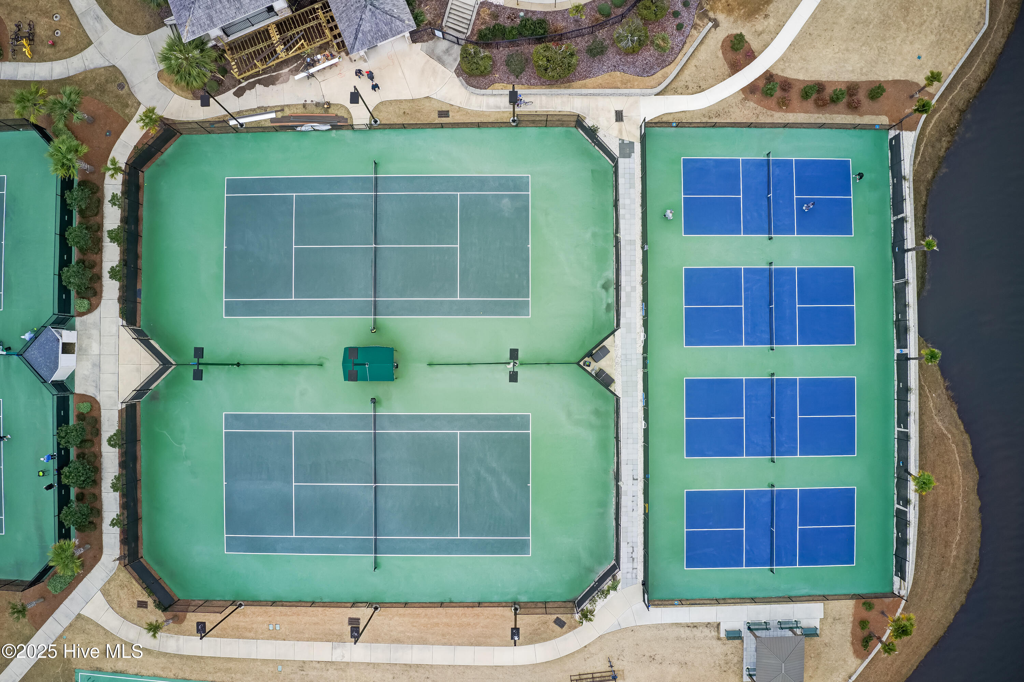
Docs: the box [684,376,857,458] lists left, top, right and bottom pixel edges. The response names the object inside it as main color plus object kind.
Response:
blue sports court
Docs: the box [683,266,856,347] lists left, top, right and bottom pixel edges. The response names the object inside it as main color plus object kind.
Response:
blue sports court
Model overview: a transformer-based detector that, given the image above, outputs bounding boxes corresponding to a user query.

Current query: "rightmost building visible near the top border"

[327,0,417,57]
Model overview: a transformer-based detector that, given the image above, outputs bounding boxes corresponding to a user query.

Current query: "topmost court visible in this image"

[681,157,854,236]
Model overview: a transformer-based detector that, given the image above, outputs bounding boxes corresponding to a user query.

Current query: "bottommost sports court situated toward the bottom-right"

[685,487,857,570]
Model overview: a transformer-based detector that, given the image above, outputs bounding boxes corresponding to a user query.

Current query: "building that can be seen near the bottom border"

[750,629,807,682]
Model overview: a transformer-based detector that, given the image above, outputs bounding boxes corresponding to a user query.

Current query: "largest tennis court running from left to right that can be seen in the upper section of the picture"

[223,174,531,318]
